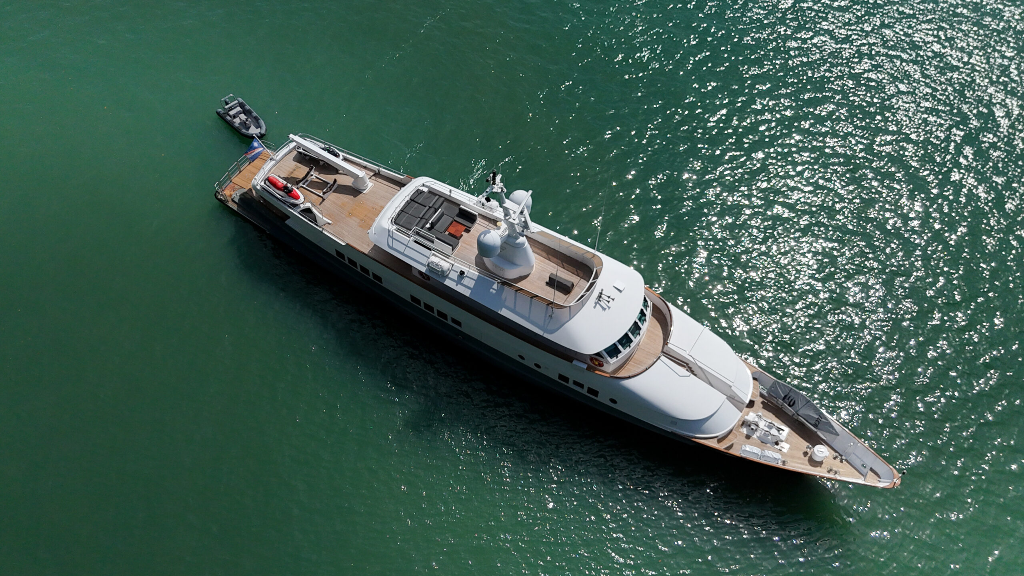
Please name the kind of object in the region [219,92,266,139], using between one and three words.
boat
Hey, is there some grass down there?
No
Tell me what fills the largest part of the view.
water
